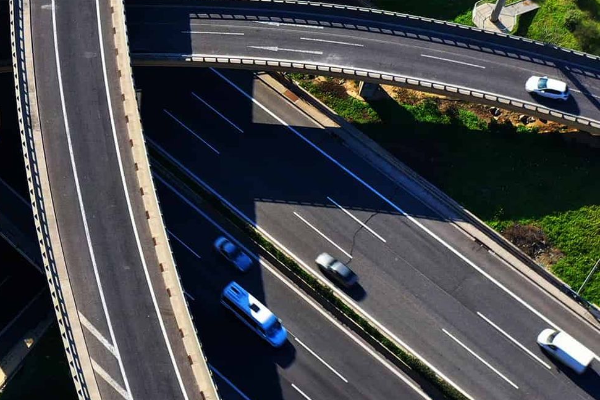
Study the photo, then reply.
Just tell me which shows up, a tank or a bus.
bus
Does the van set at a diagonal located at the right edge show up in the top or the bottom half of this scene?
bottom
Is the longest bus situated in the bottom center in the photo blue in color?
Yes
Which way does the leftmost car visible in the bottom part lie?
at an angle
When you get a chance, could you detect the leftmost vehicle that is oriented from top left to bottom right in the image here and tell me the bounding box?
[210,234,257,276]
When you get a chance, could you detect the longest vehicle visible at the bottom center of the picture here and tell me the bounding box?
[215,277,302,354]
